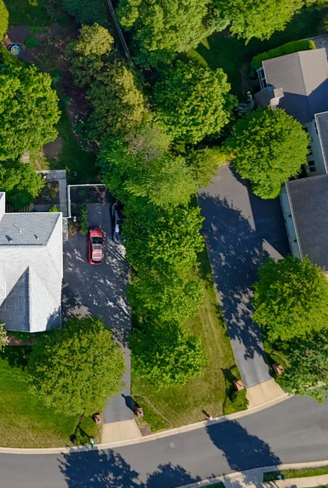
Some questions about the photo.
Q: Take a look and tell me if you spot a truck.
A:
No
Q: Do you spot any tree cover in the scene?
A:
Yes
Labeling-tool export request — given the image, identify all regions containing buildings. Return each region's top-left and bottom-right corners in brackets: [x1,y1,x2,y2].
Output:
[0,193,63,333]
[249,48,328,271]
